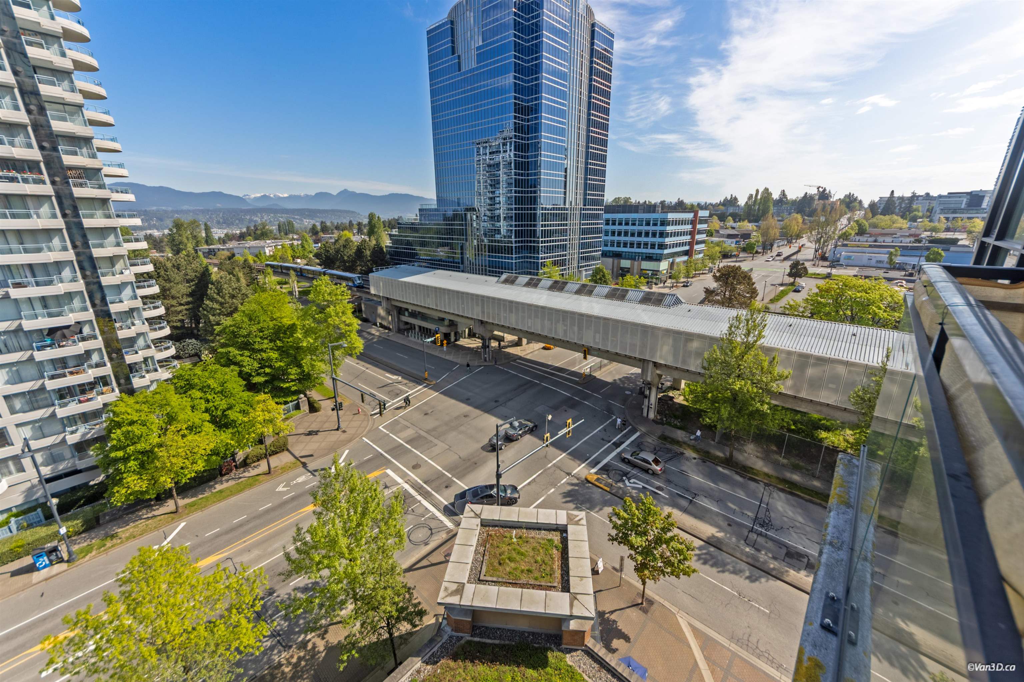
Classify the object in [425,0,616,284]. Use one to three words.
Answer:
building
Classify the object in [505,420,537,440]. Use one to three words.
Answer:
car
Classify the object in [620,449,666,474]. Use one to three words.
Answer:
car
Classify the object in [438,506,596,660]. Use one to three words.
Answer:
building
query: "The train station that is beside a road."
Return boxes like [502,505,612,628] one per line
[361,261,899,422]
